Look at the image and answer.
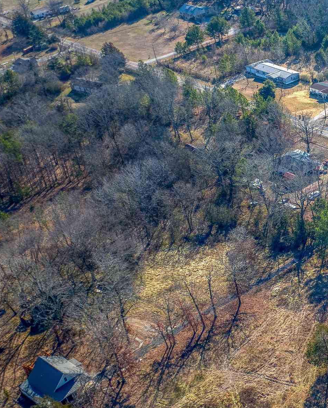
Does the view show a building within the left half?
Yes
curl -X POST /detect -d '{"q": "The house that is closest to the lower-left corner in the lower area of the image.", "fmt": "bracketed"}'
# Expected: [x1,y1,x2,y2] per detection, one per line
[20,356,103,408]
